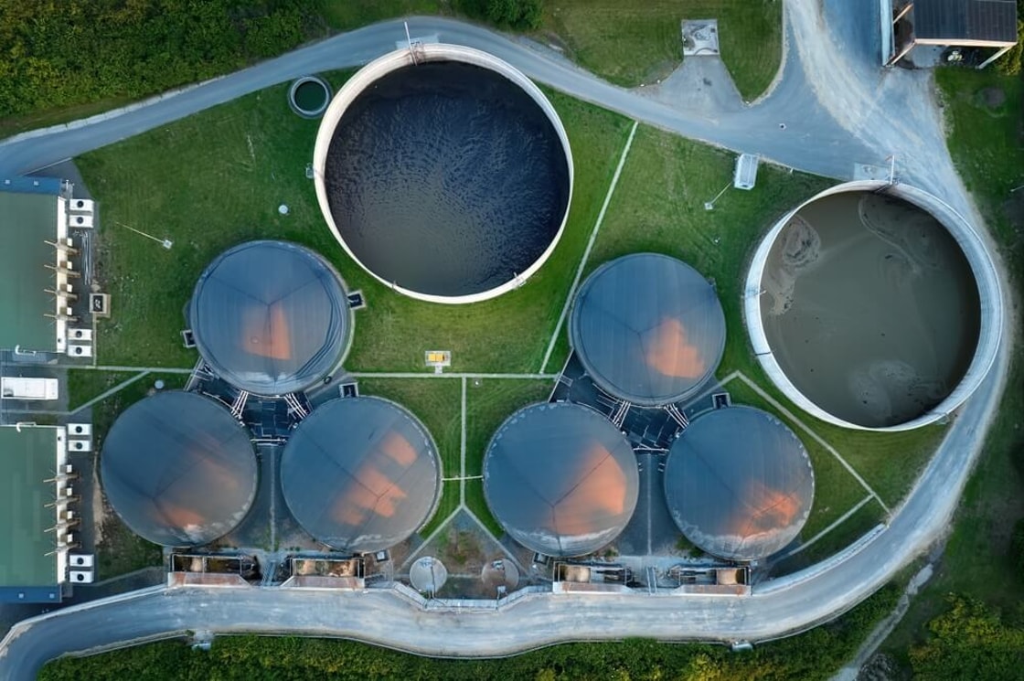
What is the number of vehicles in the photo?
1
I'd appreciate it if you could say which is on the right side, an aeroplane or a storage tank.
storage tank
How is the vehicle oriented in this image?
from side to side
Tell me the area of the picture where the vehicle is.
left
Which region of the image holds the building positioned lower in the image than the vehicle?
bottom left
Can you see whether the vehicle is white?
Yes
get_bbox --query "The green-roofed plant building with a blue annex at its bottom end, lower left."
[0,421,80,602]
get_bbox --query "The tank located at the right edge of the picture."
[745,155,1003,429]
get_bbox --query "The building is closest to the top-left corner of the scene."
[0,178,80,362]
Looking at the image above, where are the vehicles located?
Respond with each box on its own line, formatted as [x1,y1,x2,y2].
[2,374,72,401]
